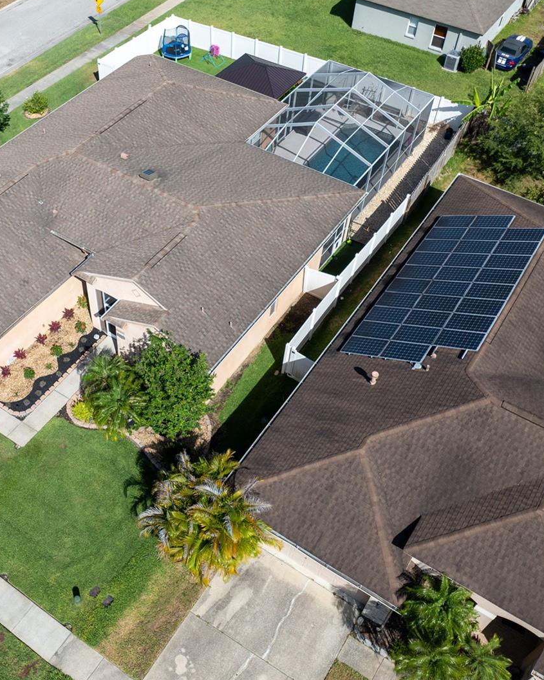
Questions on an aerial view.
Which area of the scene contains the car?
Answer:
top right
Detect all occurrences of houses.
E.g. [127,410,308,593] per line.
[0,53,369,396]
[352,0,527,64]
[211,173,544,680]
